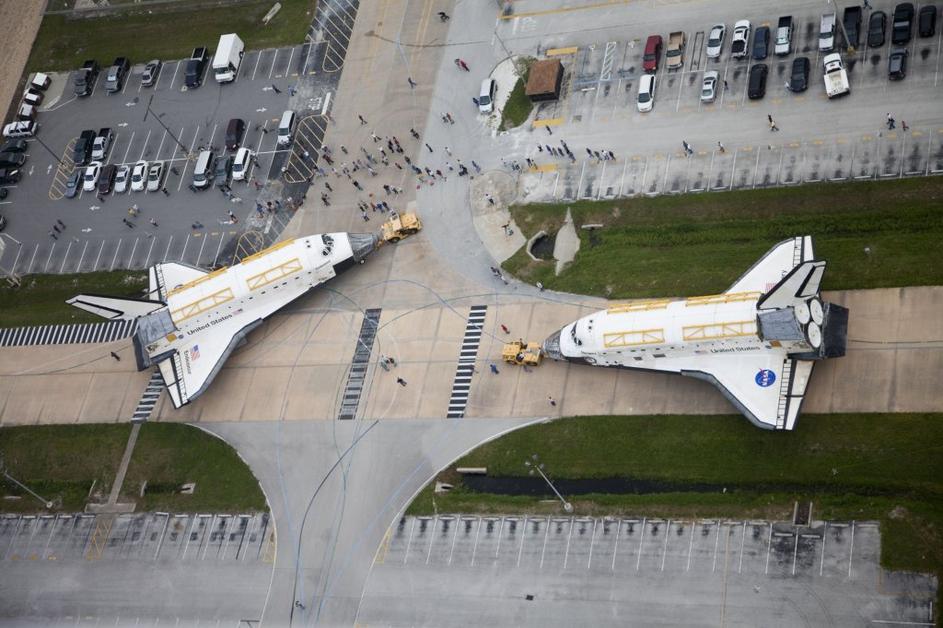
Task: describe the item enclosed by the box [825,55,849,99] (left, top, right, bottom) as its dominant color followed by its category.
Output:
white truck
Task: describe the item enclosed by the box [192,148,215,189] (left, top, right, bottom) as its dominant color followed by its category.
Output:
white vehicle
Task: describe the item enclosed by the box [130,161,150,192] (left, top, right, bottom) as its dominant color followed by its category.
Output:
white car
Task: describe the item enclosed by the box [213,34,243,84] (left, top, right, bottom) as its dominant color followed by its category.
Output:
white truck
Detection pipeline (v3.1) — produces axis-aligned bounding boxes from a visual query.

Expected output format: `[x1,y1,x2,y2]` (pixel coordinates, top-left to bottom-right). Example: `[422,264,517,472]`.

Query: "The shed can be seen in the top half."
[524,57,566,108]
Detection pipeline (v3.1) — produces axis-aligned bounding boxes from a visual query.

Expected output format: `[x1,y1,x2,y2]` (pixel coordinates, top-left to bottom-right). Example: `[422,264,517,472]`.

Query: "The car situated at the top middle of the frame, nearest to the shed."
[475,79,499,115]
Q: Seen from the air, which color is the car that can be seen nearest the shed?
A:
white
